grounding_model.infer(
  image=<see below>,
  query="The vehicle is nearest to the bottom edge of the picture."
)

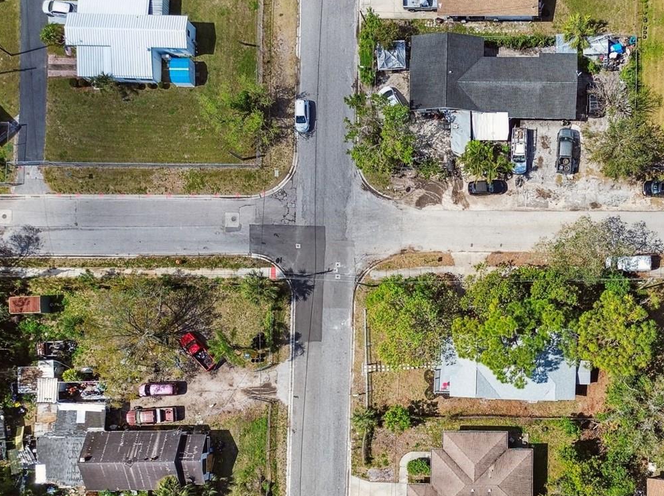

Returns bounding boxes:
[127,408,176,425]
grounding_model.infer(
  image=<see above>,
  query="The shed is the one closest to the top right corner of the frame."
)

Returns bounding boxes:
[582,33,615,59]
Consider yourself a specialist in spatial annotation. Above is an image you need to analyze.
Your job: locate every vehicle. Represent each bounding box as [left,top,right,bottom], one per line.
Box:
[179,332,220,373]
[510,127,528,174]
[127,408,176,425]
[643,179,664,197]
[605,254,652,271]
[469,179,506,195]
[293,98,310,134]
[42,0,78,18]
[380,82,408,116]
[403,0,437,10]
[557,129,574,174]
[140,381,180,398]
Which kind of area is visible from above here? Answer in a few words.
residential area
